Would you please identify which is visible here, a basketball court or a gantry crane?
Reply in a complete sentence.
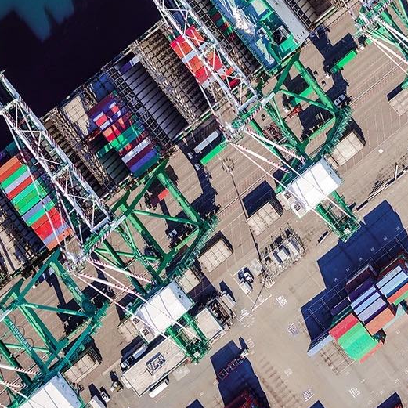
This aerial view contains a gantry crane.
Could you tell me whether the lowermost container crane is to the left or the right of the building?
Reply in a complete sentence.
You can see the lowermost container crane positioned to the left of the building.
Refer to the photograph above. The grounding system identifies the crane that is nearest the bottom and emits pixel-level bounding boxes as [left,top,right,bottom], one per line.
[0,239,121,408]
